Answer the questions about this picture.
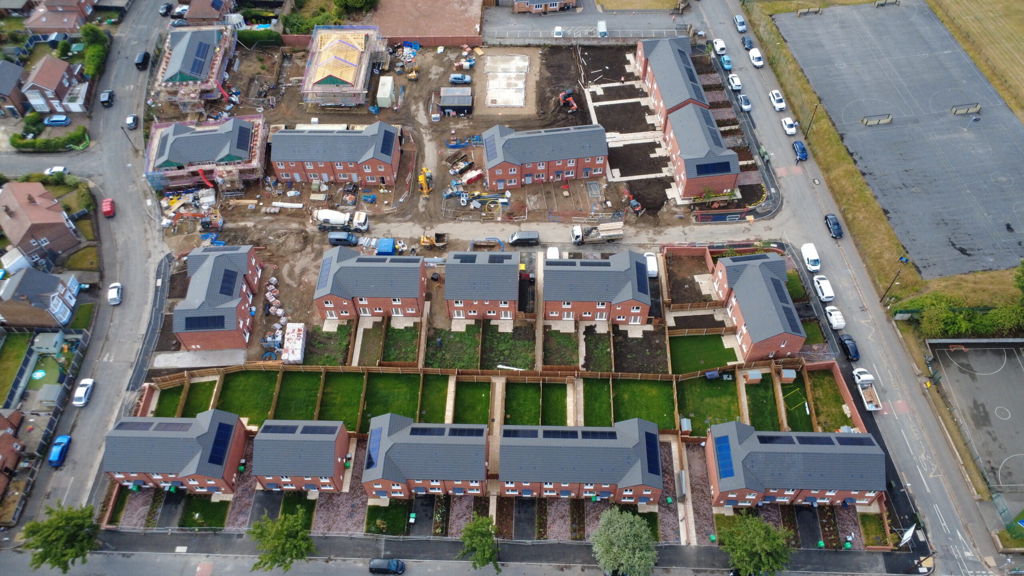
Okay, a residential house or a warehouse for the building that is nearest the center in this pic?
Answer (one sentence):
The building that is nearest the center in the image is a residential house.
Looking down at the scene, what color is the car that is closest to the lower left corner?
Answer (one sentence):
In this view, the car that is closest to the lower left corner is blue.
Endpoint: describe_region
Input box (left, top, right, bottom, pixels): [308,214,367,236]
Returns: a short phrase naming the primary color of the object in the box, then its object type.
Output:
white truck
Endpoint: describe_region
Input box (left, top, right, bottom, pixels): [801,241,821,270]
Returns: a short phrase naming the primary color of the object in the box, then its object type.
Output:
white vehicle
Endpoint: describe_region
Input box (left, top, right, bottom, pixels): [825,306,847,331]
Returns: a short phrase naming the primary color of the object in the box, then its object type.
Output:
white vehicle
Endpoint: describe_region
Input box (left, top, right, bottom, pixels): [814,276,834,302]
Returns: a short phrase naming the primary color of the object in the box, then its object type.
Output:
white car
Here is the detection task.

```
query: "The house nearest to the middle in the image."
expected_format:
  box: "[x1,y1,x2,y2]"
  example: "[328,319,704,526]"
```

[445,252,519,318]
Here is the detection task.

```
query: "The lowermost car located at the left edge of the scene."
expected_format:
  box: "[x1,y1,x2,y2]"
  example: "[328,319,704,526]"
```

[47,436,72,468]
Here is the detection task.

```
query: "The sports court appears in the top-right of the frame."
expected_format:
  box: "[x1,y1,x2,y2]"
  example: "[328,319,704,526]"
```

[770,0,1024,279]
